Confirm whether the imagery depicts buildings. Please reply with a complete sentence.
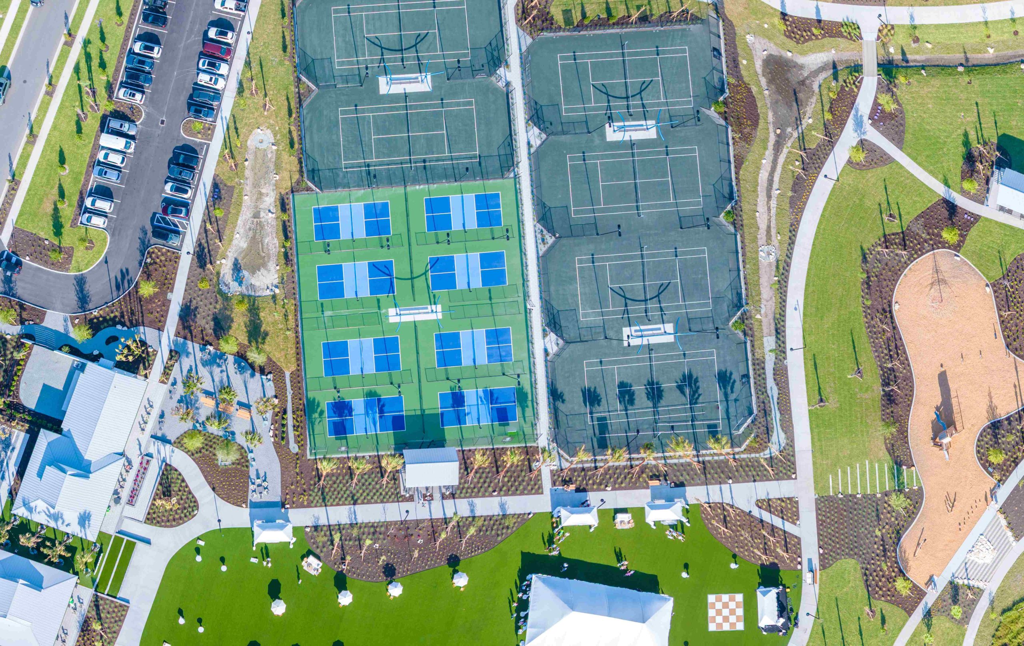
Yes, I can see a building in this picture.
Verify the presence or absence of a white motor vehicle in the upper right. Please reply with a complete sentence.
No, there is no white motor vehicle in the upper right.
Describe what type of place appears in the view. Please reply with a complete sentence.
It's a sports ground.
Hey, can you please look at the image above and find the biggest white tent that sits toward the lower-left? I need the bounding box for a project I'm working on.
[253,519,296,543]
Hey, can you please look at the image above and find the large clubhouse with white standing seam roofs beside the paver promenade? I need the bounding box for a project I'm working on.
[12,359,151,542]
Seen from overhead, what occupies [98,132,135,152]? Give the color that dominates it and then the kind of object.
white vehicle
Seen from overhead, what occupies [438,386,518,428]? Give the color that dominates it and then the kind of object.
blue sports court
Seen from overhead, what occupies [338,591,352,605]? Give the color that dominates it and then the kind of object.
white umbrella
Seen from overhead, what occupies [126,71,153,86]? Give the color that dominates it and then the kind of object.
blue car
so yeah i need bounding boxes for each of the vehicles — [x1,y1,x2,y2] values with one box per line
[109,119,137,135]
[134,42,162,58]
[94,167,121,183]
[86,196,115,213]
[126,71,153,86]
[203,43,232,60]
[166,165,199,182]
[172,151,200,166]
[0,77,12,104]
[98,132,135,152]
[198,73,225,89]
[141,0,168,12]
[119,88,146,104]
[215,0,247,16]
[142,11,169,27]
[208,27,235,44]
[194,89,221,106]
[162,204,189,219]
[99,150,126,165]
[127,56,154,72]
[81,213,109,228]
[151,228,184,246]
[0,256,23,270]
[200,59,228,75]
[188,105,216,121]
[165,183,192,197]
